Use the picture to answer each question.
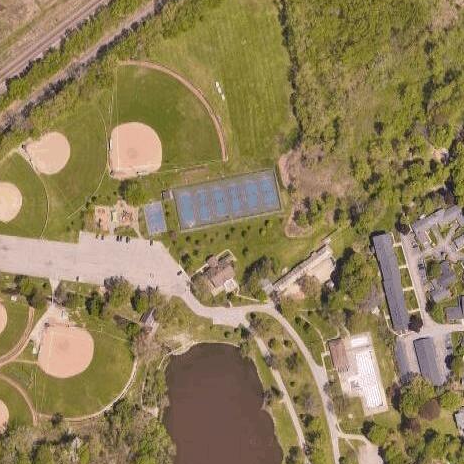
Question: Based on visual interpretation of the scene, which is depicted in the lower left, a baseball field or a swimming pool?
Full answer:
Looking in the lower left, you will find a baseball field.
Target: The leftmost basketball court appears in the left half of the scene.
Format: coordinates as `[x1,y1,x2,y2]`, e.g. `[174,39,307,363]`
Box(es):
[143,199,168,236]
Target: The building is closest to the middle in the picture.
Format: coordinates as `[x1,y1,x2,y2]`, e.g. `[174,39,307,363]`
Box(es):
[206,255,236,292]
